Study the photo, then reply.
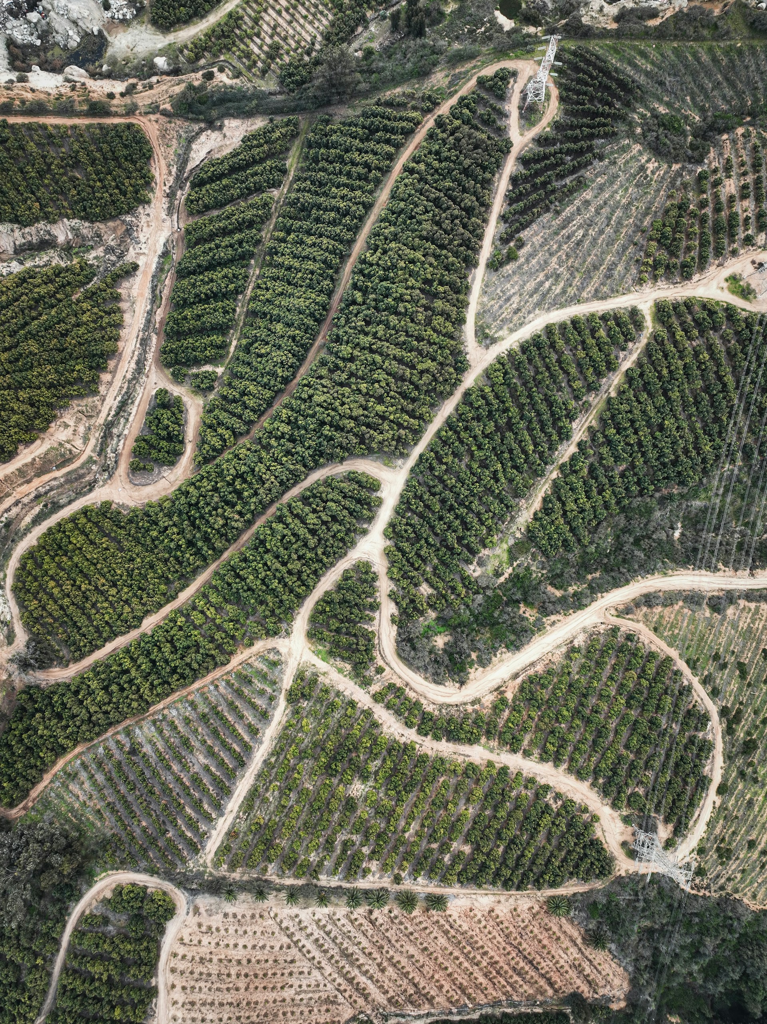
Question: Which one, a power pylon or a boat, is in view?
power pylon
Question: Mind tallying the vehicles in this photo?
zero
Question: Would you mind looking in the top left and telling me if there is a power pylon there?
No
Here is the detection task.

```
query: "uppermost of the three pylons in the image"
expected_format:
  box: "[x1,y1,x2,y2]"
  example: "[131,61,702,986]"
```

[521,23,567,114]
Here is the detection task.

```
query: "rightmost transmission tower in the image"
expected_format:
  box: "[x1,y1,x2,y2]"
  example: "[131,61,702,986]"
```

[747,259,767,290]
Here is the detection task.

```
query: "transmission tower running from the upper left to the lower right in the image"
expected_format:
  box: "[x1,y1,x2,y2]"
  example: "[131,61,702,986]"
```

[625,824,699,892]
